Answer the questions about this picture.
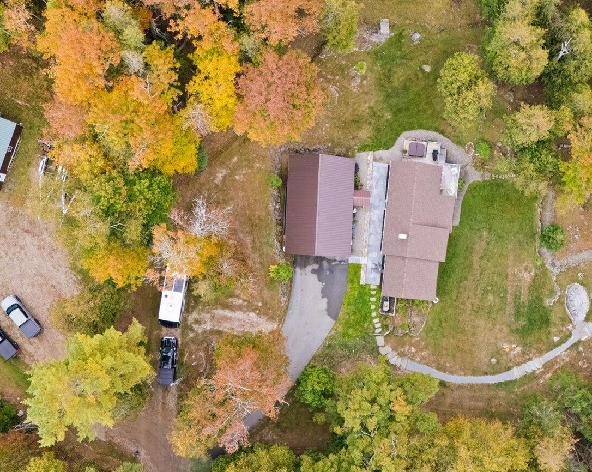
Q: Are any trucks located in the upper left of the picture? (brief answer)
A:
No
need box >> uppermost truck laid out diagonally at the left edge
[0,293,39,341]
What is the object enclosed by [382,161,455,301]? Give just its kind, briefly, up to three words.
house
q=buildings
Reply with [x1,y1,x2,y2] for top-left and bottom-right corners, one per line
[382,161,455,301]
[285,153,355,257]
[0,118,24,190]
